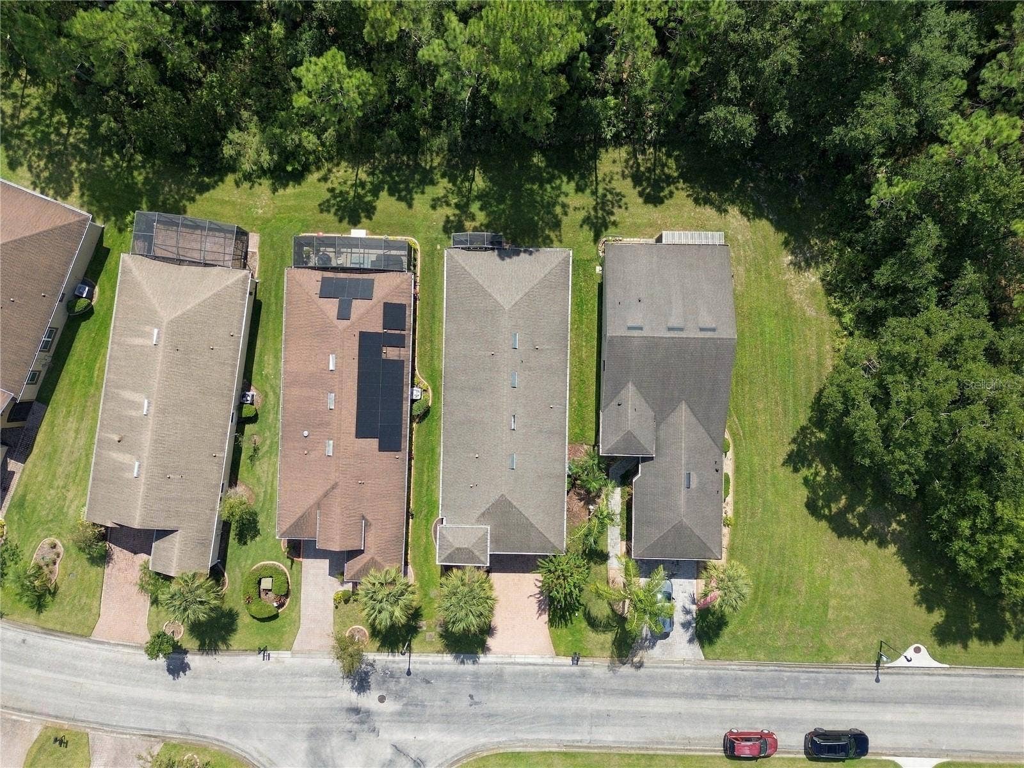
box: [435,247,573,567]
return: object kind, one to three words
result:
house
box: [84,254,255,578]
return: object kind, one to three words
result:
house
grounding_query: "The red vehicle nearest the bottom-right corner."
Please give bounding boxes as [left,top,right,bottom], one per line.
[723,729,781,763]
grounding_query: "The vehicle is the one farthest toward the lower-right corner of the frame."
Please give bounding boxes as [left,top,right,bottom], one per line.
[805,728,871,764]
